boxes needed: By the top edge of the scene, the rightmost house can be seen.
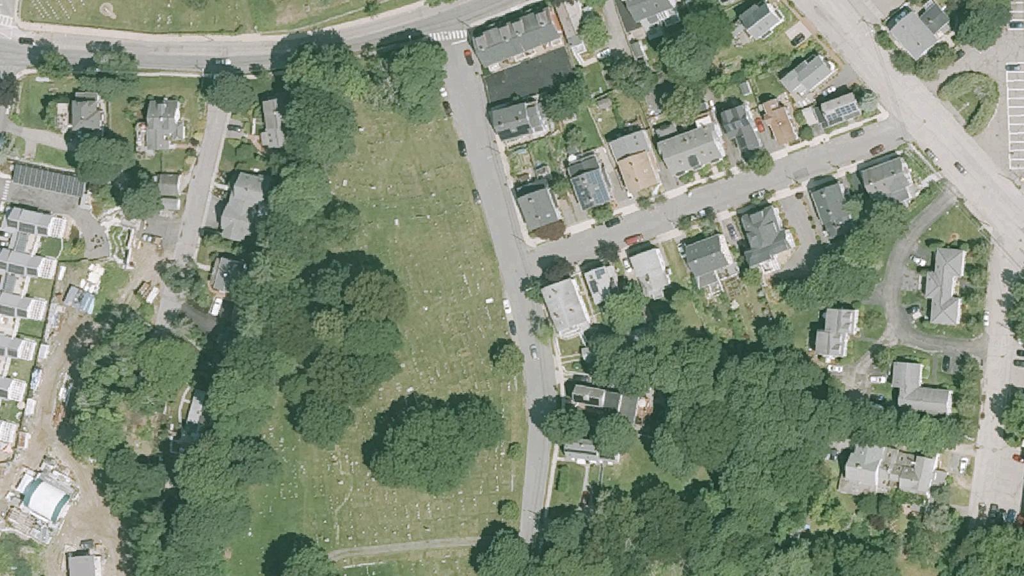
[890,3,951,60]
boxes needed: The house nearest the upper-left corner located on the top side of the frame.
[72,92,105,130]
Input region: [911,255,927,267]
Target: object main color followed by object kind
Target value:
white vehicle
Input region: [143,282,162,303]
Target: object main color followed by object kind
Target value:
white vehicle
